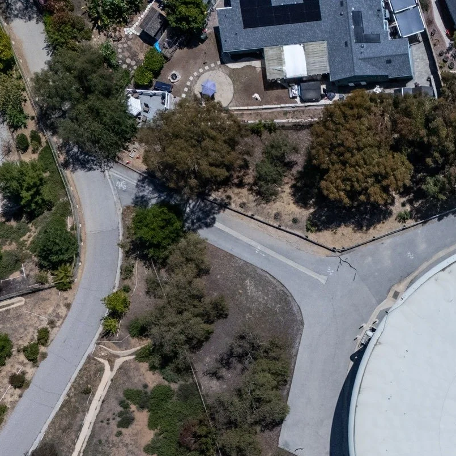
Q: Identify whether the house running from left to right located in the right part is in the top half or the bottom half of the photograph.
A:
top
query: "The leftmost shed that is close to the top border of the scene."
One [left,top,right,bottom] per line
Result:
[139,7,174,40]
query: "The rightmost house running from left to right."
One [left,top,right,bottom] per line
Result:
[214,0,415,87]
